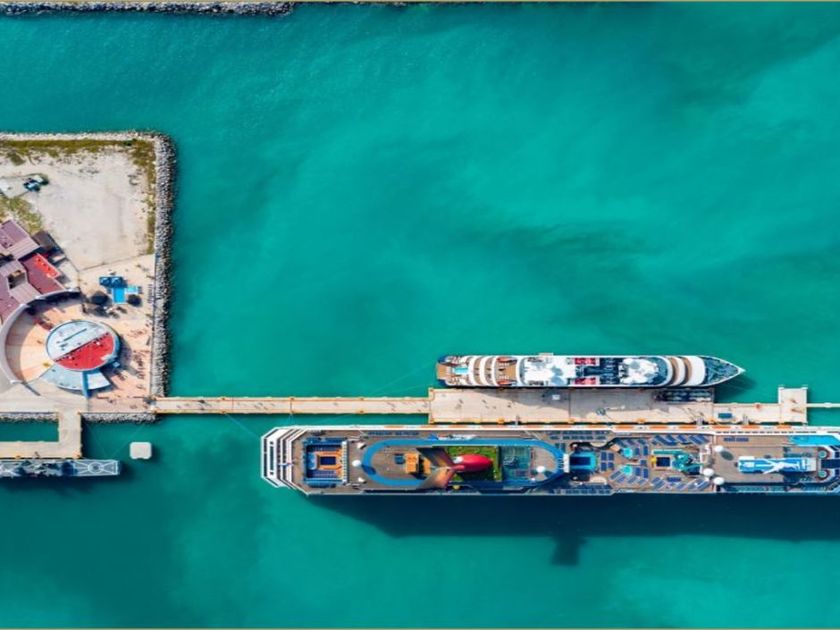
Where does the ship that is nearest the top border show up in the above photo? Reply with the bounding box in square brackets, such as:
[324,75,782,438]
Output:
[436,352,746,386]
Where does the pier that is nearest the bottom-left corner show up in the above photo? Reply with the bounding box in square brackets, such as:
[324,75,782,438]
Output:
[0,412,84,458]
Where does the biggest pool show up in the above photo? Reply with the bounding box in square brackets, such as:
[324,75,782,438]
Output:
[113,286,126,304]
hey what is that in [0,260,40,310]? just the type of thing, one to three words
building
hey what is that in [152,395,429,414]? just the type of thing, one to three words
pier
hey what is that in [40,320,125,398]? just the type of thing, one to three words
building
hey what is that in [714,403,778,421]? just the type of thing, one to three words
pier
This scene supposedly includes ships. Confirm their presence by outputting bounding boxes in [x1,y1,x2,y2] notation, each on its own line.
[436,352,746,386]
[260,424,840,495]
[0,459,120,478]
